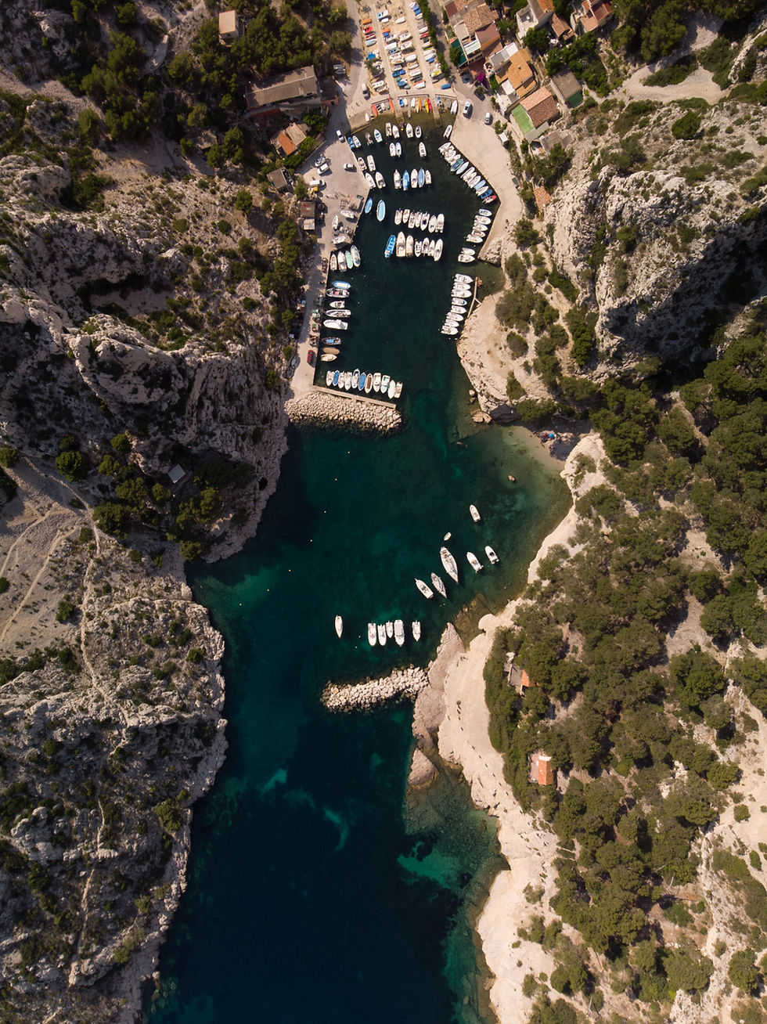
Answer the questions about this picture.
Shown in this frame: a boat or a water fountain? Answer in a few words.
boat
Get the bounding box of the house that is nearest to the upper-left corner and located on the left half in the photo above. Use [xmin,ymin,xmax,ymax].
[219,12,239,46]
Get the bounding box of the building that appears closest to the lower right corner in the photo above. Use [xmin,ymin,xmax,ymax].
[529,751,554,786]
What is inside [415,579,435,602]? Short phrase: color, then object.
white boat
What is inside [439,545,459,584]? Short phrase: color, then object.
white boat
